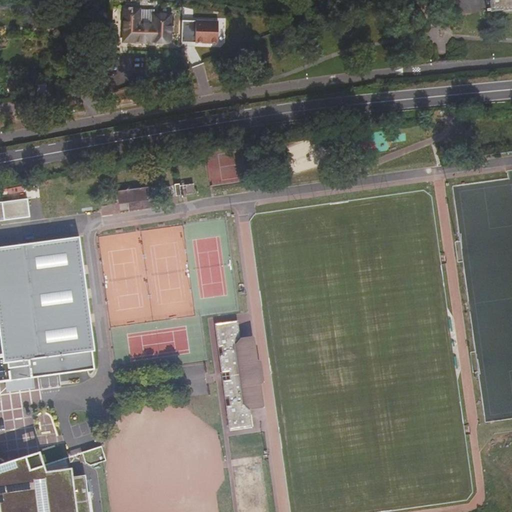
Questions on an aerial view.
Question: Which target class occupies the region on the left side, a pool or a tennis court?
tennis court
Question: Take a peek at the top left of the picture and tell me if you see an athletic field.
No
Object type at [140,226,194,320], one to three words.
tennis court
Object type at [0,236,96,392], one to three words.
building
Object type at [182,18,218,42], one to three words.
house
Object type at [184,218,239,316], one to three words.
tennis court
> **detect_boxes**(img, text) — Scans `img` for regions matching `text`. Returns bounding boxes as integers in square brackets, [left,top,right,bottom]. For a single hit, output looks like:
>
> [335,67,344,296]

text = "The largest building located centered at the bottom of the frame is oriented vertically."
[215,320,254,431]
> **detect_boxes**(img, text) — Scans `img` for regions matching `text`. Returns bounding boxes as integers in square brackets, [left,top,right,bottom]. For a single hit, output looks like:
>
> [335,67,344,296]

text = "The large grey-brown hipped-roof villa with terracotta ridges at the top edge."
[122,5,172,44]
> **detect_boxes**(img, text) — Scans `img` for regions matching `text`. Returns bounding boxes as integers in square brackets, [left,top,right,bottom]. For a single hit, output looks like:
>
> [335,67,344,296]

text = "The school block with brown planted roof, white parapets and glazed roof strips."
[0,450,96,512]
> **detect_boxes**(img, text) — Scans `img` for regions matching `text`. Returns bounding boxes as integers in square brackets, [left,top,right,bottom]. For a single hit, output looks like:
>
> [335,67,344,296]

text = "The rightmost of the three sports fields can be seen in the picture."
[452,170,512,424]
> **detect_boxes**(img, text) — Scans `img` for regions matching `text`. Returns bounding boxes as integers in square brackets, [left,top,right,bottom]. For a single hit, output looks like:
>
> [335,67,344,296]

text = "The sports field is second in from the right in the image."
[252,191,471,512]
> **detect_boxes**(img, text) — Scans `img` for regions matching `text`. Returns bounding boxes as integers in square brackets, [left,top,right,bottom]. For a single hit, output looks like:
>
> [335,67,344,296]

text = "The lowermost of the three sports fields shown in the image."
[106,404,224,512]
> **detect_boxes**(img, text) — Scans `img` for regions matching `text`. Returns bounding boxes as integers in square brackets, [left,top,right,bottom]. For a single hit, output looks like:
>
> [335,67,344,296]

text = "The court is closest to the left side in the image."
[100,232,152,326]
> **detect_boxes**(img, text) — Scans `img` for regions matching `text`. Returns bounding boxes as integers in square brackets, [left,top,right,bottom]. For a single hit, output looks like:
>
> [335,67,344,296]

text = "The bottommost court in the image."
[111,315,208,371]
